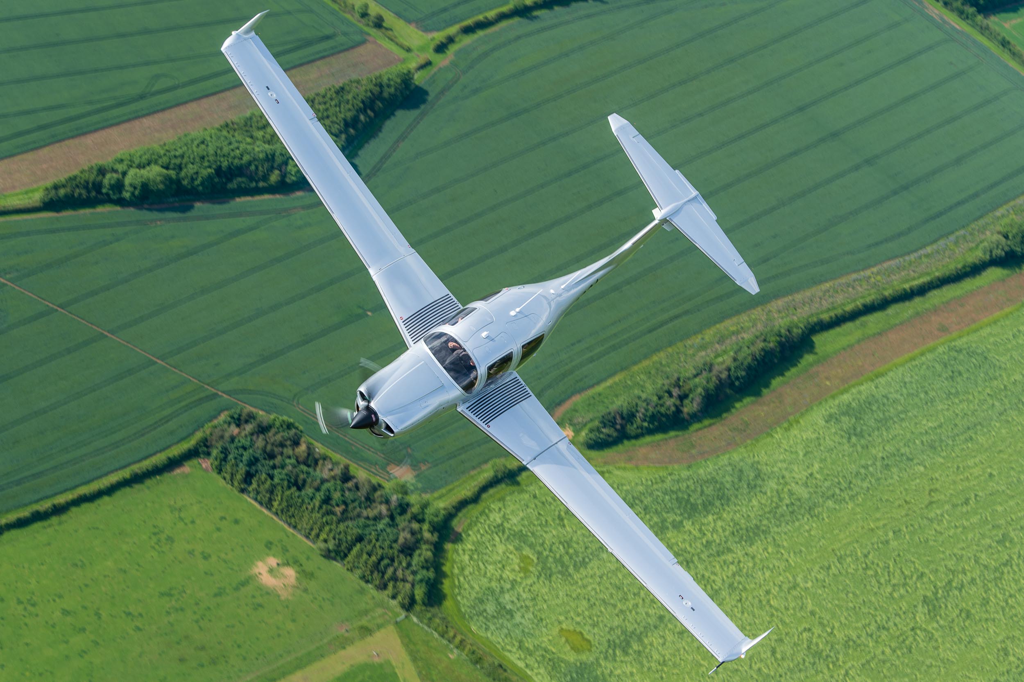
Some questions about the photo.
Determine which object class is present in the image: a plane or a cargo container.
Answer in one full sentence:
It is a plane that can be seen here.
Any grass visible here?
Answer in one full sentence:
Yes, grass shows up in the scene.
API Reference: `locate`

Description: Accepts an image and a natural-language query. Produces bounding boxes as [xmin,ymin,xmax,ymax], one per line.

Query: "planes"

[220,8,776,679]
